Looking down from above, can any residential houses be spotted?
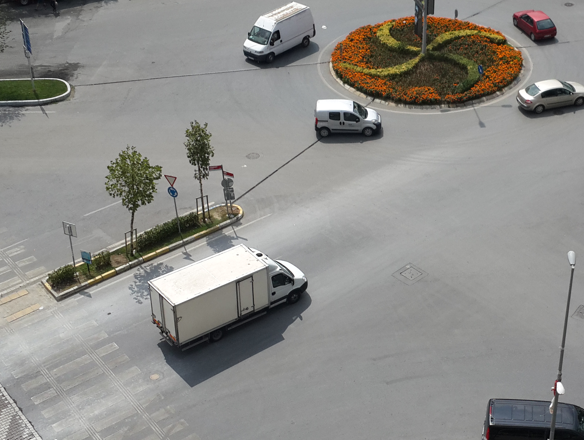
No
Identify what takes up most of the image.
paved ground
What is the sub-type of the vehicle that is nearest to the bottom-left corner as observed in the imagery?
truck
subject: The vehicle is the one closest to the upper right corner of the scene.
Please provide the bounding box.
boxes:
[511,8,559,41]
